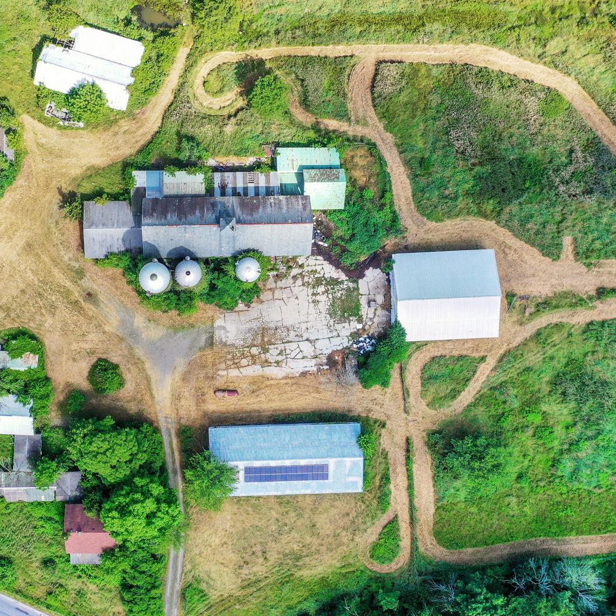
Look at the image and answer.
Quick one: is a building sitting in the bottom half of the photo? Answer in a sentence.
Yes, I can see a building in the bottom half of the photo.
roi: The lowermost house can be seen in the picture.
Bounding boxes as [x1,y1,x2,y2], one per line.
[64,501,116,570]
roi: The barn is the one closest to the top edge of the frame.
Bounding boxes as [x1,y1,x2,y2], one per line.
[74,25,145,71]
